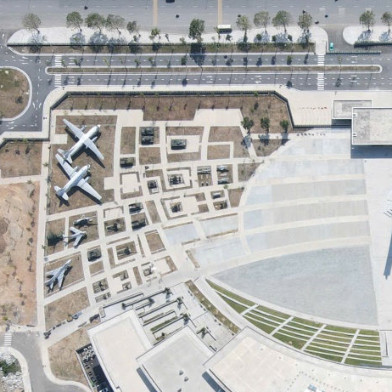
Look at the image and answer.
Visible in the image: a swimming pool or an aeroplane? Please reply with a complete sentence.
It is an aeroplane that can be seen here.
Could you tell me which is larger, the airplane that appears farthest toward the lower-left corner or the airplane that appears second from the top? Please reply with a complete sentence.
Compared with the airplane that appears farthest toward the lower-left corner, the airplane that appears second from the top is the bigger one.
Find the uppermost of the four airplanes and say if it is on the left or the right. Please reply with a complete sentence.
The uppermost of the four airplanes is on the left side of the image.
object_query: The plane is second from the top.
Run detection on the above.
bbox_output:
[54,154,98,198]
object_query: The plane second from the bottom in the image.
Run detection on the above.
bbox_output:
[62,224,85,245]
